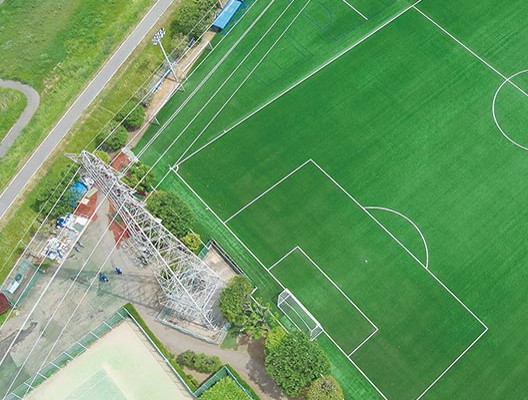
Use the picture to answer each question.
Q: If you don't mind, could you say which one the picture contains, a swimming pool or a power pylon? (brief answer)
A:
power pylon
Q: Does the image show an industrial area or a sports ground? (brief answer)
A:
sports ground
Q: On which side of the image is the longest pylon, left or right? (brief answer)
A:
left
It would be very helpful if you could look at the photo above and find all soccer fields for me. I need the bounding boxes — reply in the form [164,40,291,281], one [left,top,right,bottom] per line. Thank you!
[124,0,417,193]
[137,0,528,400]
